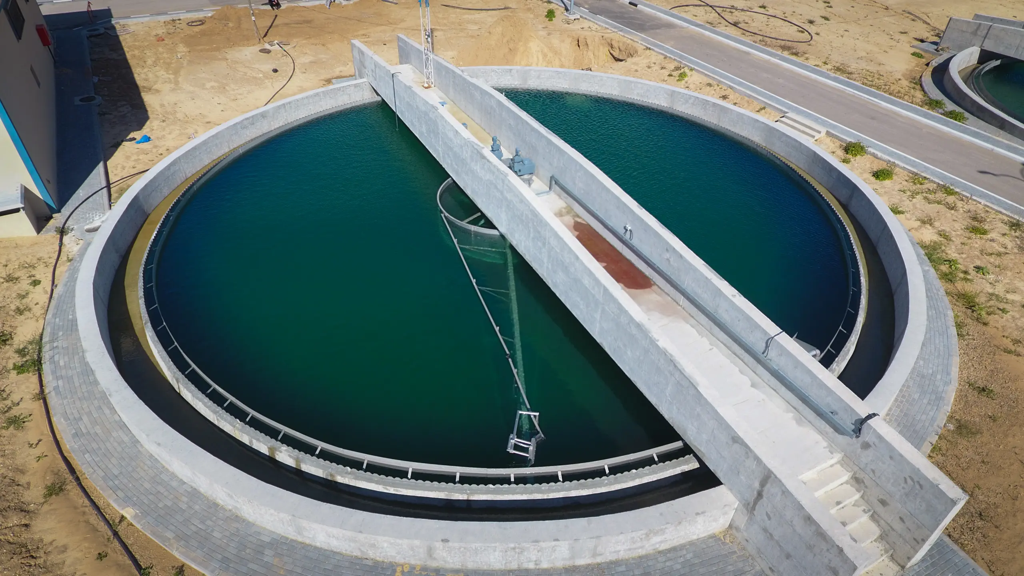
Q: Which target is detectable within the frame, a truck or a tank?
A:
tank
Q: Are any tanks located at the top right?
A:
Yes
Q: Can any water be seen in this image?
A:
Yes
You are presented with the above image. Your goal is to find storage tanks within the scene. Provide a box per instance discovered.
[74,64,927,571]
[946,42,1024,169]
